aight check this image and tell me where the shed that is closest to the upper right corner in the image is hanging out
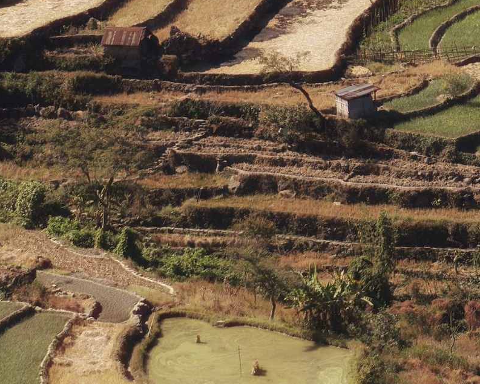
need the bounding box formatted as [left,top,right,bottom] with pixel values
[337,79,386,117]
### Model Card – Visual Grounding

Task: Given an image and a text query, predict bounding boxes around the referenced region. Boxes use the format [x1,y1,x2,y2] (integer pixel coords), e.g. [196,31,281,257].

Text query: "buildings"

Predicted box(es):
[337,79,386,117]
[99,24,148,70]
